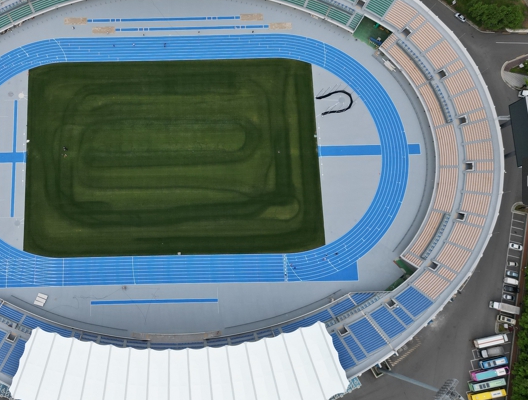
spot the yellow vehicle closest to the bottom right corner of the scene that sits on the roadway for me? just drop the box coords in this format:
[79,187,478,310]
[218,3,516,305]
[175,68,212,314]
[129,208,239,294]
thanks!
[463,387,506,400]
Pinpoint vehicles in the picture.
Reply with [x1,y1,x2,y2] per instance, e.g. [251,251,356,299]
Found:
[453,14,466,24]
[463,387,506,400]
[494,315,517,325]
[464,376,506,392]
[506,261,517,268]
[474,356,508,371]
[501,277,517,286]
[466,365,510,381]
[486,301,522,315]
[508,243,522,251]
[505,270,519,278]
[503,285,517,293]
[477,347,506,359]
[468,333,508,349]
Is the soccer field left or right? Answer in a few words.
left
